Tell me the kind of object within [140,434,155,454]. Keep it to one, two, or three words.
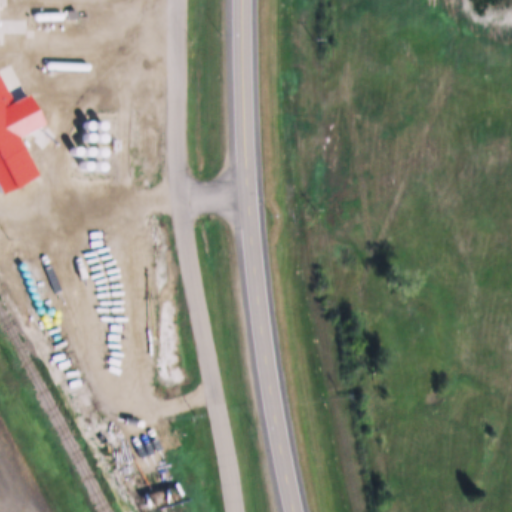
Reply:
vehicle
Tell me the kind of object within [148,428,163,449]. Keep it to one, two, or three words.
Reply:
vehicle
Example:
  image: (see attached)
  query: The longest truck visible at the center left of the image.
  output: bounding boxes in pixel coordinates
[40,252,61,298]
